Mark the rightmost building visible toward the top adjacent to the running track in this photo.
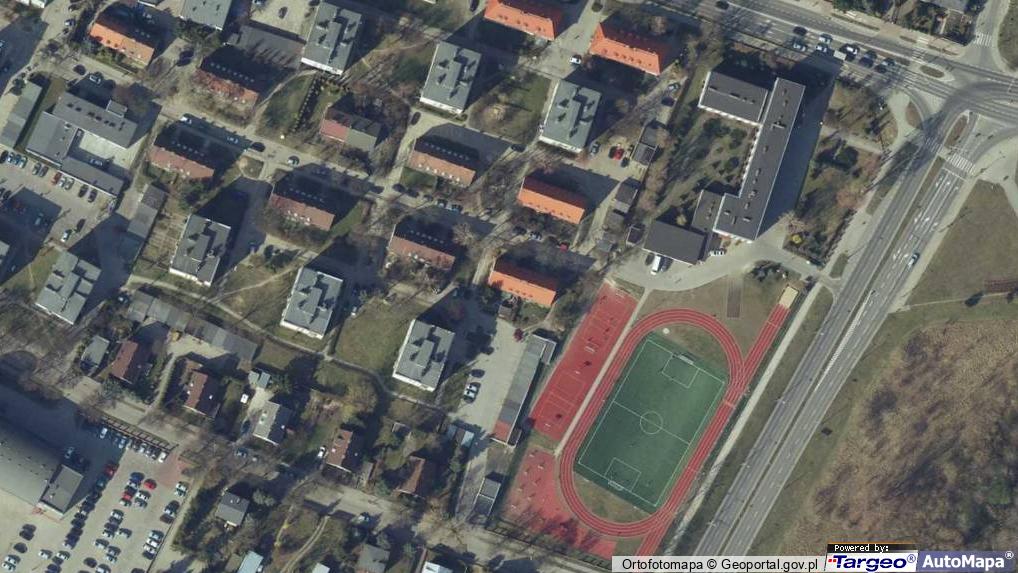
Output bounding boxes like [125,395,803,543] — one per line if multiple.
[713,78,805,245]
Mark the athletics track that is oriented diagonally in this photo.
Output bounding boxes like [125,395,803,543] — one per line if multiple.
[559,303,788,573]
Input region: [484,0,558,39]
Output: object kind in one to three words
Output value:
house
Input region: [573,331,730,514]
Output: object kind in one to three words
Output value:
soccer field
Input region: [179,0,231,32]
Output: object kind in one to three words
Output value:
building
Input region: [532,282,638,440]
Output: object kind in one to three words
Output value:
sports court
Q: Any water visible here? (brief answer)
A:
No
